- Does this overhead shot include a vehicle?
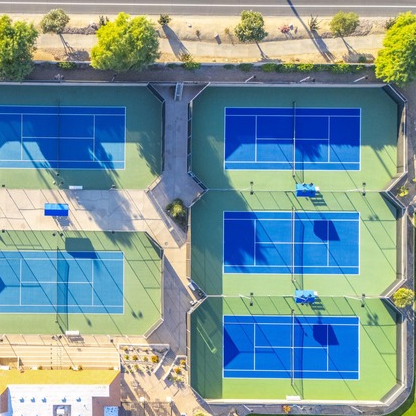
No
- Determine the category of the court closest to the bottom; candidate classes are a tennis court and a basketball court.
tennis court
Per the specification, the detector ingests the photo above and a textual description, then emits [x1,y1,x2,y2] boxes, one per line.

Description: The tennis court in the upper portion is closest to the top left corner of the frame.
[0,85,162,189]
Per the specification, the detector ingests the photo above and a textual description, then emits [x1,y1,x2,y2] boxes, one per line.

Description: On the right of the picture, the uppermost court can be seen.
[194,86,397,192]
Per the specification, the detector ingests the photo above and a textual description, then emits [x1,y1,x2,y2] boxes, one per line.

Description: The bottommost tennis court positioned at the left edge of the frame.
[0,232,161,335]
